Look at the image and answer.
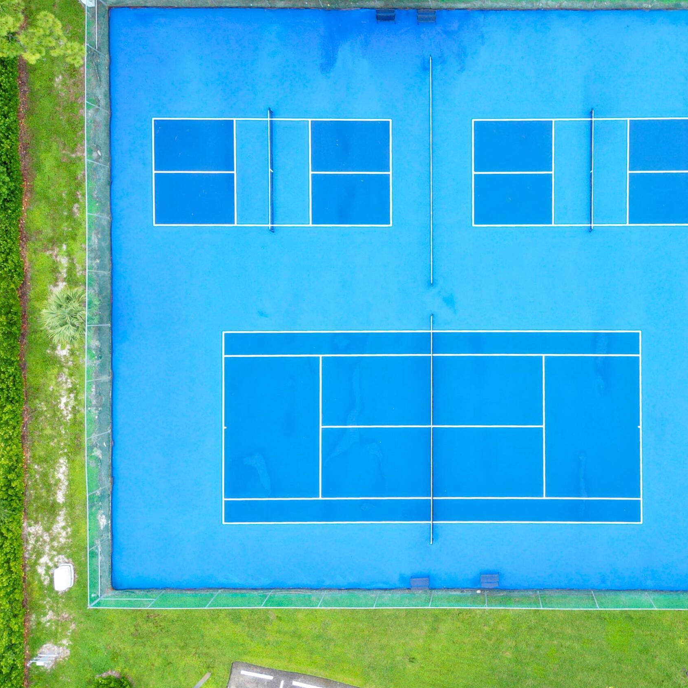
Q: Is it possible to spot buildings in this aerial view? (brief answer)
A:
No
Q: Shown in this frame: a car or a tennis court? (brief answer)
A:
tennis court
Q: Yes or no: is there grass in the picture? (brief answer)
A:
Yes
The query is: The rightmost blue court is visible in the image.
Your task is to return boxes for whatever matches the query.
[471,117,688,226]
